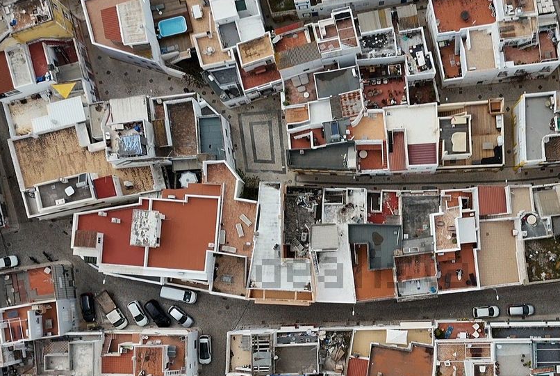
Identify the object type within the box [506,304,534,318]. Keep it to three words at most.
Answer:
car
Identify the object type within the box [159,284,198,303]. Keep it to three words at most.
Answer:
vehicle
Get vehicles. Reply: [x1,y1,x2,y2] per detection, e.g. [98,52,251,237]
[128,299,149,327]
[506,304,534,318]
[159,284,198,303]
[168,303,192,328]
[471,305,500,318]
[97,291,126,327]
[40,251,51,262]
[80,293,97,321]
[27,256,39,265]
[145,298,171,328]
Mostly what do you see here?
buildings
